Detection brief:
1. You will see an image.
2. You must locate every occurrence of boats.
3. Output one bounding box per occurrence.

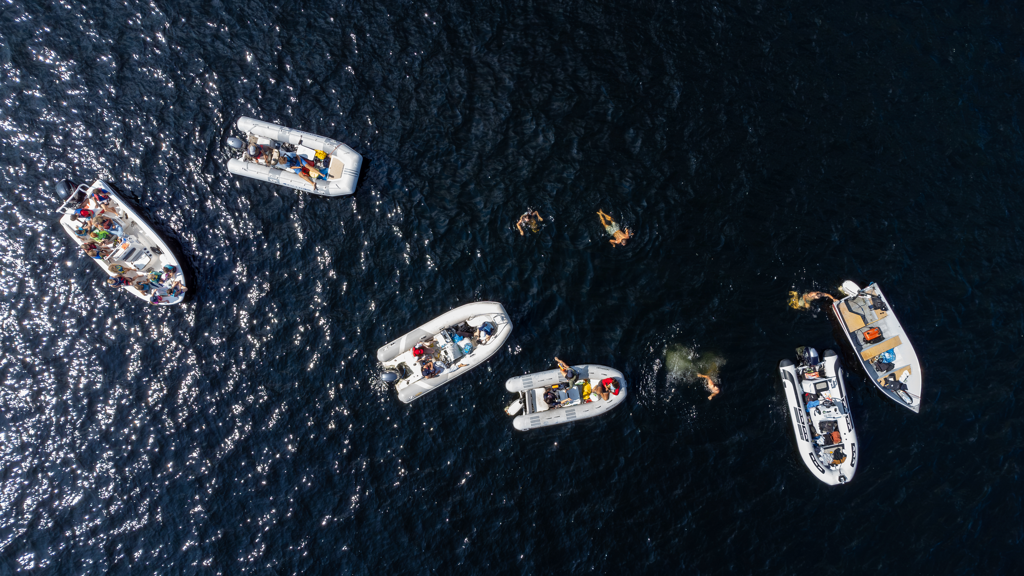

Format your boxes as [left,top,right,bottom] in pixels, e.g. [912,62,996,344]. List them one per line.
[227,116,363,196]
[377,301,511,404]
[56,179,188,305]
[506,364,627,431]
[780,346,858,484]
[830,280,923,414]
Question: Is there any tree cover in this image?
No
